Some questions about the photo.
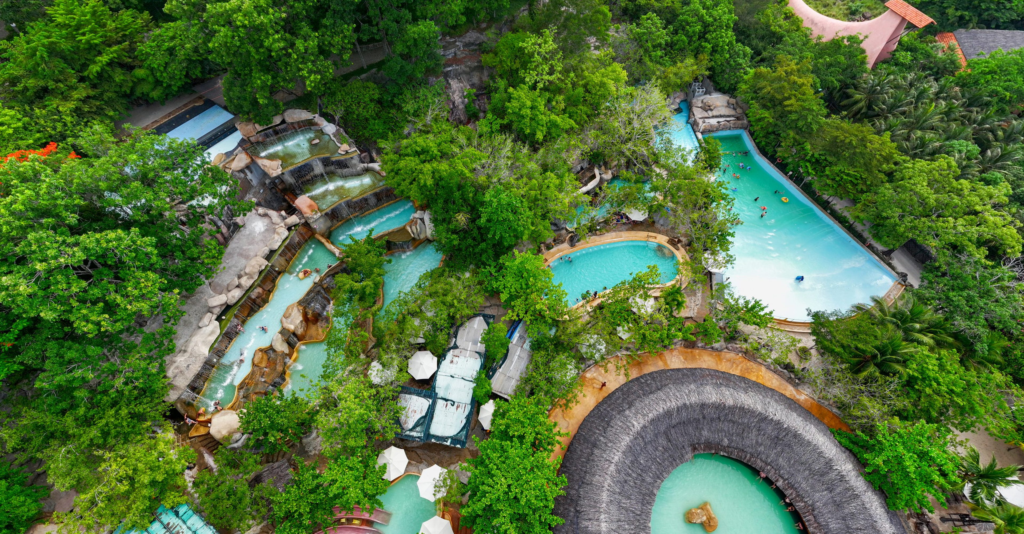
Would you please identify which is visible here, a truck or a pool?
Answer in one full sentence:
The one in the frame is a pool.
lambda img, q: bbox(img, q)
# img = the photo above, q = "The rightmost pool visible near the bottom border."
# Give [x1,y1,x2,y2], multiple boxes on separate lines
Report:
[650,453,808,534]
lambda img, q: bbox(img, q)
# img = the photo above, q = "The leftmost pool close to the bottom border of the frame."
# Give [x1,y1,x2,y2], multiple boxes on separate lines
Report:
[366,470,445,534]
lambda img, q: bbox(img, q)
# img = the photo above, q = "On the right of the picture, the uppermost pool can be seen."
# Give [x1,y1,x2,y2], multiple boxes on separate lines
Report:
[651,104,716,192]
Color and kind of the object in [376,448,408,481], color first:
white umbrella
